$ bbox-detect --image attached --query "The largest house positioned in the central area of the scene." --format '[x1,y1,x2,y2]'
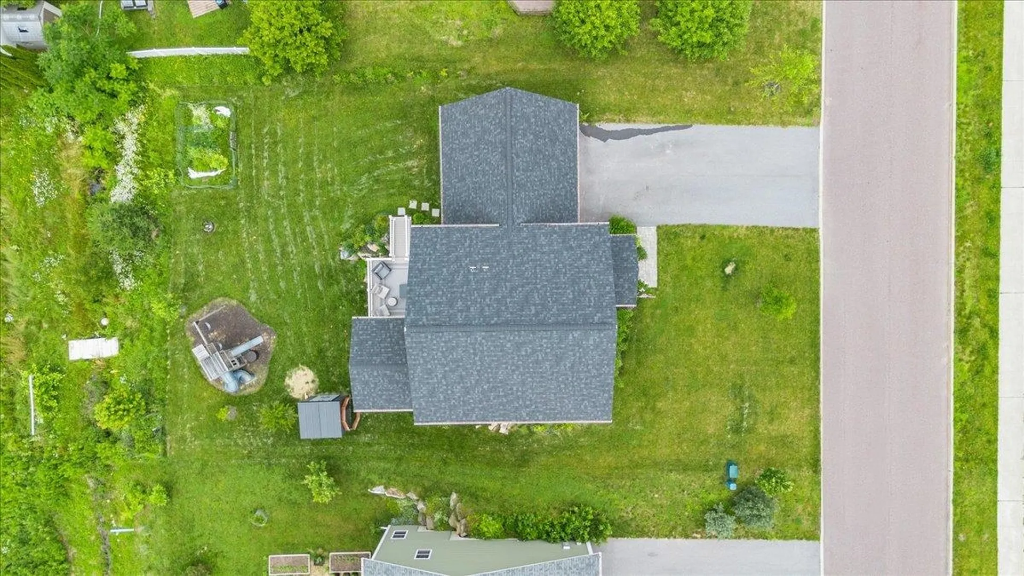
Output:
[348,85,639,428]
